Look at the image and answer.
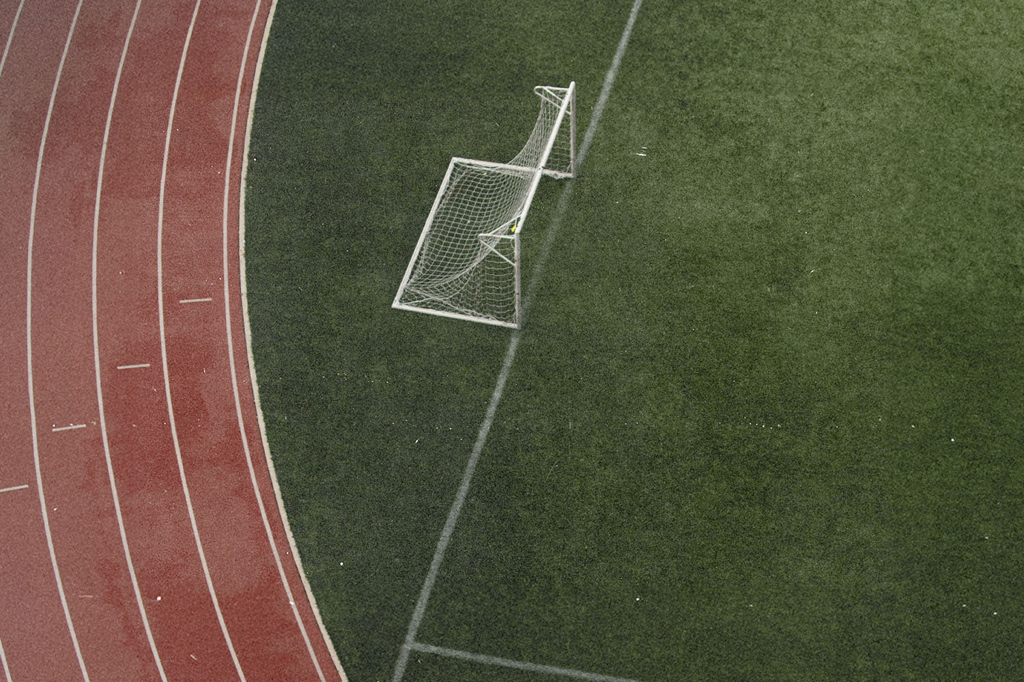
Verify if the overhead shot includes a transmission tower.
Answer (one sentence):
No, the picture doesn't show any transmission tower.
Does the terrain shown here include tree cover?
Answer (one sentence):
No, no tree cover is visible.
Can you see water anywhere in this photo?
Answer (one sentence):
No, there's no water in this view.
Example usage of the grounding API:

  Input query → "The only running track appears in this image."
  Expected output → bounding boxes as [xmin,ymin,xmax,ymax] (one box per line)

[0,0,342,682]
